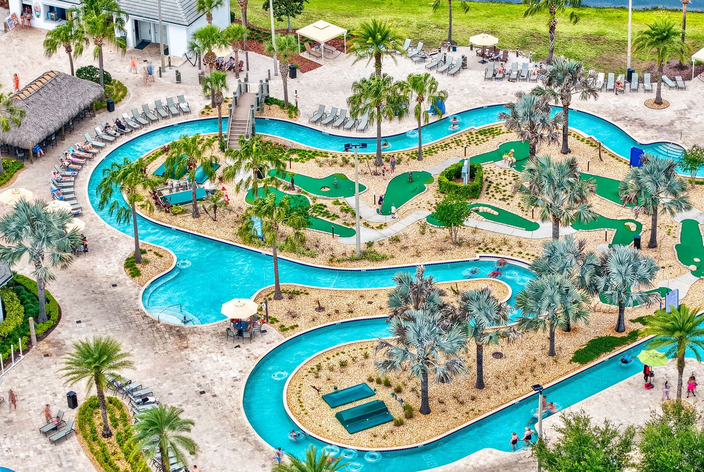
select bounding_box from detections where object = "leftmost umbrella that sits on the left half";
[0,186,34,216]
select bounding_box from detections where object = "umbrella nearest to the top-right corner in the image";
[467,33,499,51]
